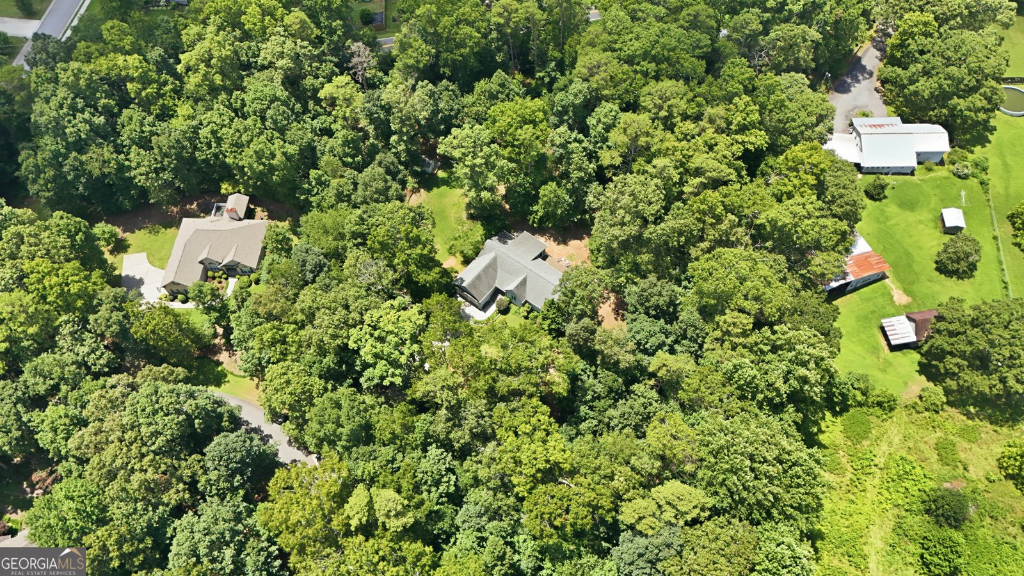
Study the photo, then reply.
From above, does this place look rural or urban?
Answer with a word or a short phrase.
rural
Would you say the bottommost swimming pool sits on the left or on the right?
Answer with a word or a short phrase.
right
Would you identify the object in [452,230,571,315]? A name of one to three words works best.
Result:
house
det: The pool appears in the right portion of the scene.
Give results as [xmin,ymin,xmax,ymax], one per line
[994,85,1024,119]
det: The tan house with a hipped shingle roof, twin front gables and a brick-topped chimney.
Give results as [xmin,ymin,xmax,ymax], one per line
[161,192,269,294]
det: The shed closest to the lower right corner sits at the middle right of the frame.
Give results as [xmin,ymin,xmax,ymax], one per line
[876,308,949,351]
